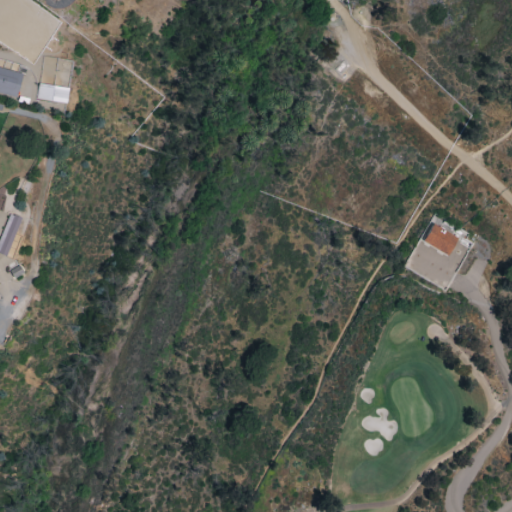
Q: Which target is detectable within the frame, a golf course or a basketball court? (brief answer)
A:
golf course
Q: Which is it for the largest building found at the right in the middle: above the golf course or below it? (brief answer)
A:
above it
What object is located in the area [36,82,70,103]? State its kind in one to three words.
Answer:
shed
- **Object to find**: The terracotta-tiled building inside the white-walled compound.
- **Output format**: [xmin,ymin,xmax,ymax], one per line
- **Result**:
[426,224,459,255]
